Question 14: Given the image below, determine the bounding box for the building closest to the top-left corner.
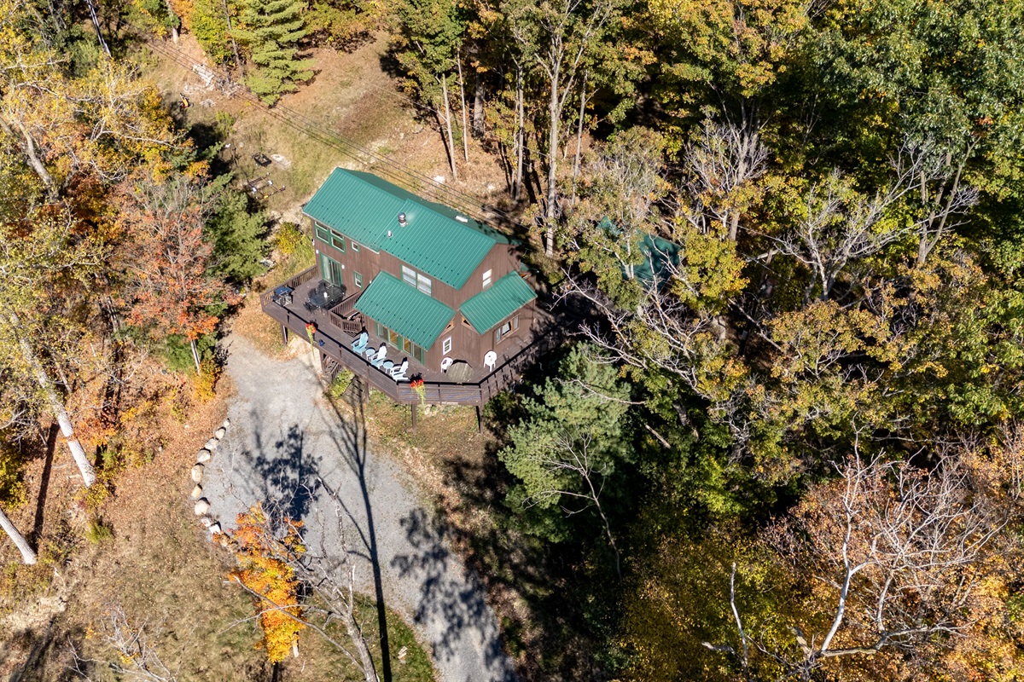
[297,168,539,374]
